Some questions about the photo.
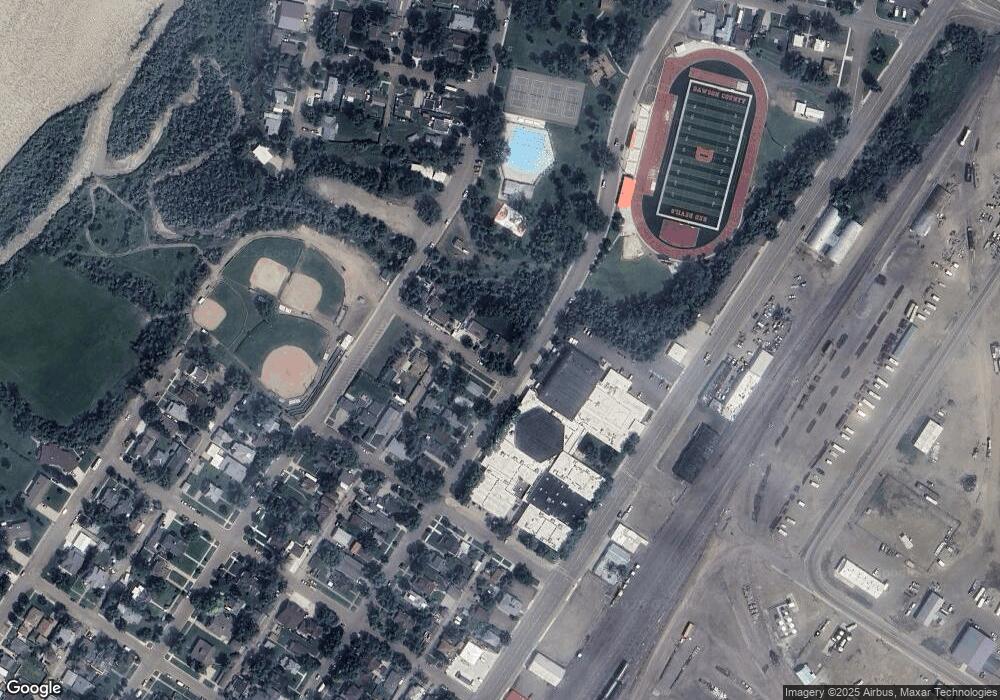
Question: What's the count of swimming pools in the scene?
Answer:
1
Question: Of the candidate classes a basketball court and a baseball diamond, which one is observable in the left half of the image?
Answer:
baseball diamond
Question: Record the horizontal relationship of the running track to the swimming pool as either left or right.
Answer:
right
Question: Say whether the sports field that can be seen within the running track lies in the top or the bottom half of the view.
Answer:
top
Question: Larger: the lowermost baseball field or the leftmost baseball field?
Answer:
the lowermost baseball field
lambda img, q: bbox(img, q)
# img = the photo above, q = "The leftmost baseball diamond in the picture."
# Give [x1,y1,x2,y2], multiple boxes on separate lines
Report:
[193,279,248,346]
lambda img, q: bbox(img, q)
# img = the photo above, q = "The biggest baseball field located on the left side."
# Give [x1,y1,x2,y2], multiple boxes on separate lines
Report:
[234,314,328,405]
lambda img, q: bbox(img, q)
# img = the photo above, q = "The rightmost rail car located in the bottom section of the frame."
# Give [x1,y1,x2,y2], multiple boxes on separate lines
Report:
[682,621,695,638]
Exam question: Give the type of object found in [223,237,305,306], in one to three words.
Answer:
baseball field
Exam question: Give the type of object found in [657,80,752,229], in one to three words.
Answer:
sports field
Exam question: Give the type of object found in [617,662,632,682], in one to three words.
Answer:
rail car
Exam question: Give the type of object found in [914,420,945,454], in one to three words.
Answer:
building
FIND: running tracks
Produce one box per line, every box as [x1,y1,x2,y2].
[630,49,769,260]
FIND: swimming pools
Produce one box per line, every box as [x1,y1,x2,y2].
[501,121,554,185]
